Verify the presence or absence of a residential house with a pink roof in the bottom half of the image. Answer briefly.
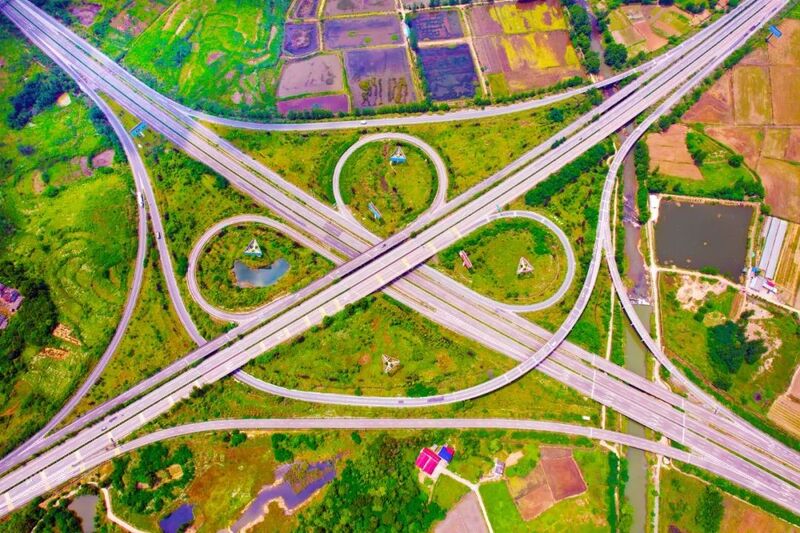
Yes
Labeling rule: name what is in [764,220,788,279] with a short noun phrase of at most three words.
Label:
shed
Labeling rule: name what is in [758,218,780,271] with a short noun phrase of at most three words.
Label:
shed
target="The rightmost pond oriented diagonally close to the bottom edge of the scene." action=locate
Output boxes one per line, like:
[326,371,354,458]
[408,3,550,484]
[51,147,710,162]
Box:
[230,451,349,533]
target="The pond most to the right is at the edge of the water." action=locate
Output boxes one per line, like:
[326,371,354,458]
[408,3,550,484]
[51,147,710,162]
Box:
[656,200,755,284]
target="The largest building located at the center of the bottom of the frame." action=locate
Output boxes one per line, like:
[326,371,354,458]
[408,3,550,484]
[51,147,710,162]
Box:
[414,448,441,474]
